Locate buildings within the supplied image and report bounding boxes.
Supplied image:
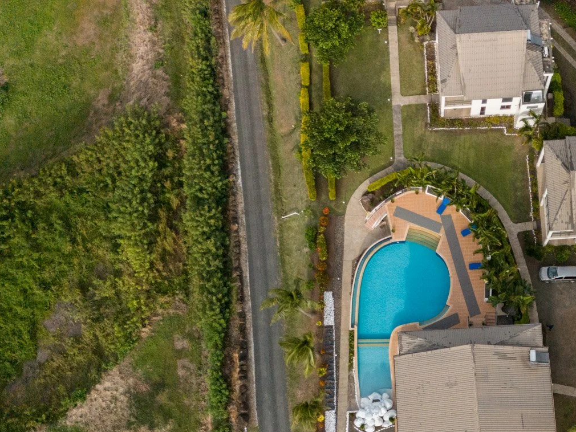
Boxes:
[538,137,576,244]
[395,324,557,432]
[436,0,554,123]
